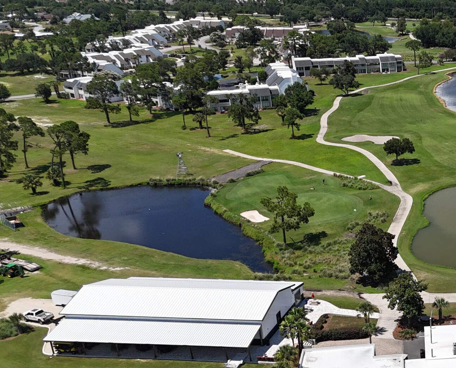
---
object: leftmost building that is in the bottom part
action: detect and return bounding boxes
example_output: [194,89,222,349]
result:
[43,278,306,366]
